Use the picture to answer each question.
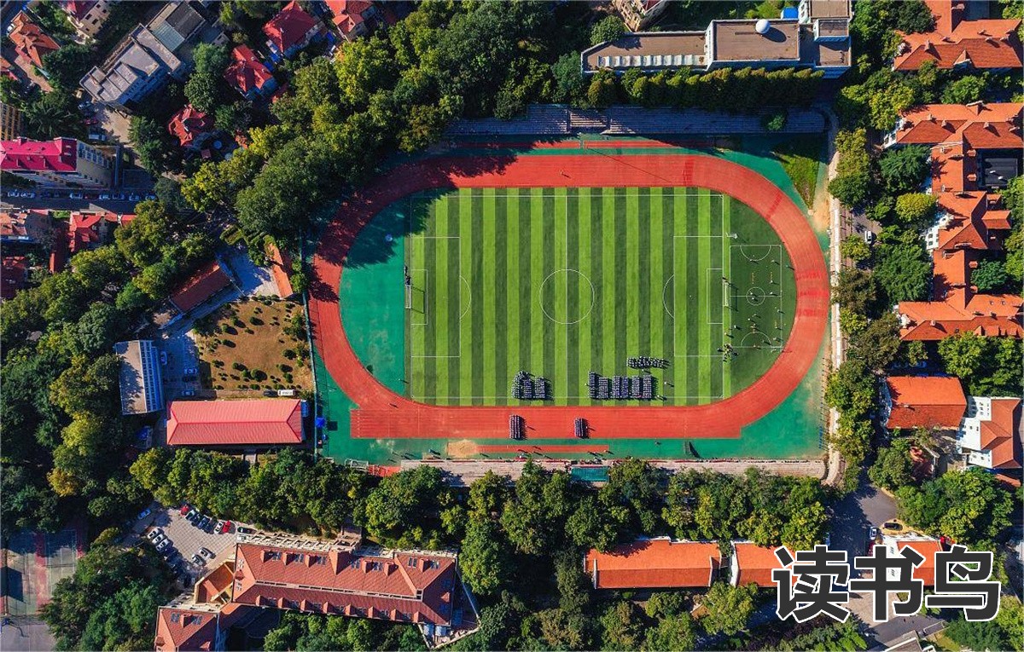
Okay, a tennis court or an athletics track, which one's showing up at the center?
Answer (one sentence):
The feature located at the center is an athletics track.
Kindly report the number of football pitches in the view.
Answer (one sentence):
In total, 2 football pitches can be seen.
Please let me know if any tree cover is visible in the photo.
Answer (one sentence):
Yes, tree cover can be seen from above here.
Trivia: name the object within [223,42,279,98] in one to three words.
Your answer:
house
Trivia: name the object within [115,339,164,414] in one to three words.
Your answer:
building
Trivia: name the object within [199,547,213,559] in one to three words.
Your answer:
vehicle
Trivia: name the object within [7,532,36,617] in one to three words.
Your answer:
tennis court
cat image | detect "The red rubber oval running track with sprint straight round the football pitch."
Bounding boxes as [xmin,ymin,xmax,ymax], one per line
[307,154,828,440]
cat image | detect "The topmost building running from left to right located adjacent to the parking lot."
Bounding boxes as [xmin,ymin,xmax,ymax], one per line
[167,399,304,447]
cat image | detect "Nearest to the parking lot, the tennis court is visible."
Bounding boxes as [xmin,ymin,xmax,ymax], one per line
[46,529,77,596]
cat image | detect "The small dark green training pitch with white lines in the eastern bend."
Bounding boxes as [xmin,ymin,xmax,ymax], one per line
[729,245,781,347]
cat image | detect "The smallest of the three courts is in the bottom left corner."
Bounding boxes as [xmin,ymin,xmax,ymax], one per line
[20,554,38,610]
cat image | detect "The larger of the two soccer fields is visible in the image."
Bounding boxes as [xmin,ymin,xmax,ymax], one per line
[404,188,795,406]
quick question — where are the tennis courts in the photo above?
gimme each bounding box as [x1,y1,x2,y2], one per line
[7,532,36,617]
[46,529,77,596]
[20,554,38,610]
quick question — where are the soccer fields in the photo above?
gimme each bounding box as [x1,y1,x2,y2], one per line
[404,188,795,406]
[729,245,781,347]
